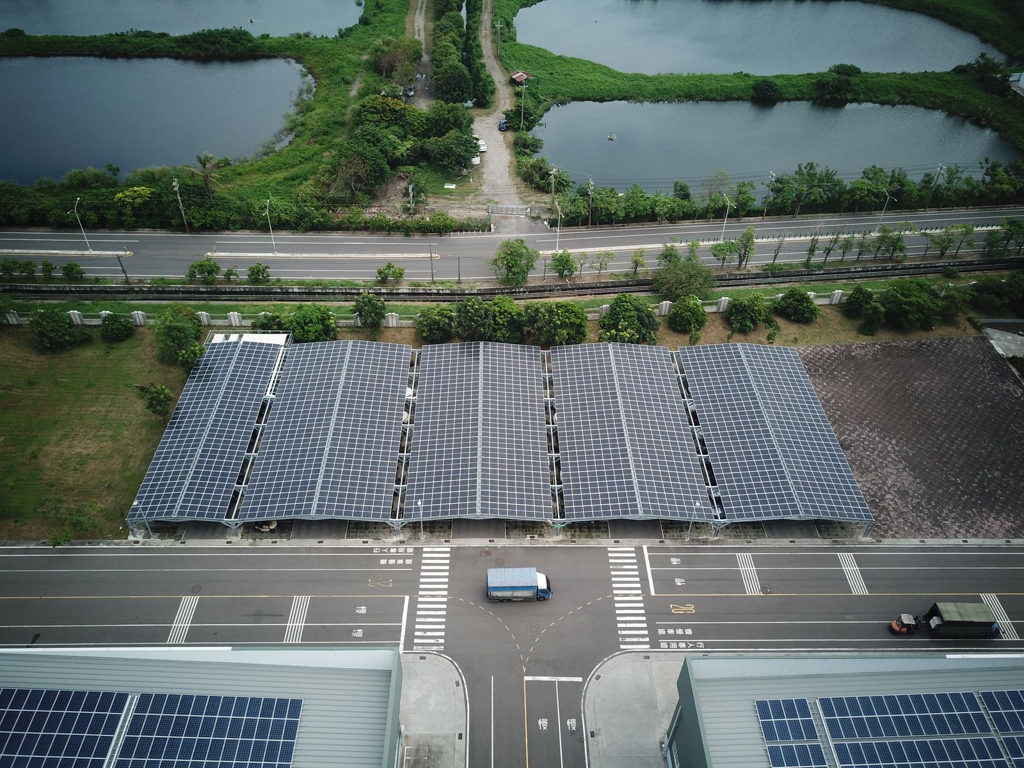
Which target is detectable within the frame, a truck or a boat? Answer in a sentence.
It is a truck that can be seen here.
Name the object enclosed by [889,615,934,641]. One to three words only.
work vehicle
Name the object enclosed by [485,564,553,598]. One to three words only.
truck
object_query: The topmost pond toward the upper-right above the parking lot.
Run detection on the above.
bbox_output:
[513,0,987,70]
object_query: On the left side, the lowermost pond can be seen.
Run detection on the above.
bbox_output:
[0,55,317,189]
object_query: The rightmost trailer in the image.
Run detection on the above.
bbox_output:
[922,602,998,636]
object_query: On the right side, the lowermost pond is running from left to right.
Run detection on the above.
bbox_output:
[537,100,1024,200]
